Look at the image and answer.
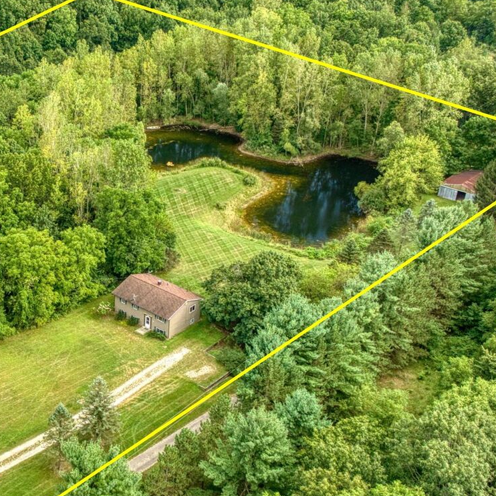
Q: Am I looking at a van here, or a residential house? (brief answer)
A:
residential house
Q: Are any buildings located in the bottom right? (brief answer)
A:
No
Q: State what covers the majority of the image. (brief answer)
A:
trees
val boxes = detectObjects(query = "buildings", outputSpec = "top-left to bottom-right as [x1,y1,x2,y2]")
[439,172,491,207]
[114,273,198,338]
